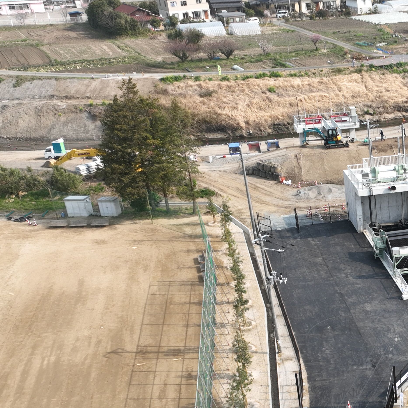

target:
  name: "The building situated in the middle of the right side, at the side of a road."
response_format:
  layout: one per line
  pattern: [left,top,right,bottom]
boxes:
[342,139,408,242]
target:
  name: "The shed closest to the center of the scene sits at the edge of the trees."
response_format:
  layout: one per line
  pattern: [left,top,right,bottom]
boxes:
[92,189,127,216]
